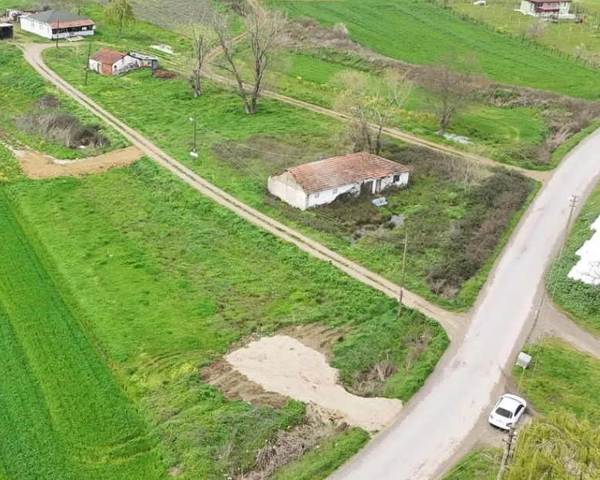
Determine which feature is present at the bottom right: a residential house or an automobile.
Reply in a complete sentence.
The feature located at the bottom right is an automobile.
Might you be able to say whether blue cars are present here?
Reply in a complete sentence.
No, the picture doesn't show any blue car.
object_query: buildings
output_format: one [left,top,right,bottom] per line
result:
[0,22,16,39]
[520,0,577,18]
[35,7,102,39]
[84,44,143,75]
[269,145,417,209]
